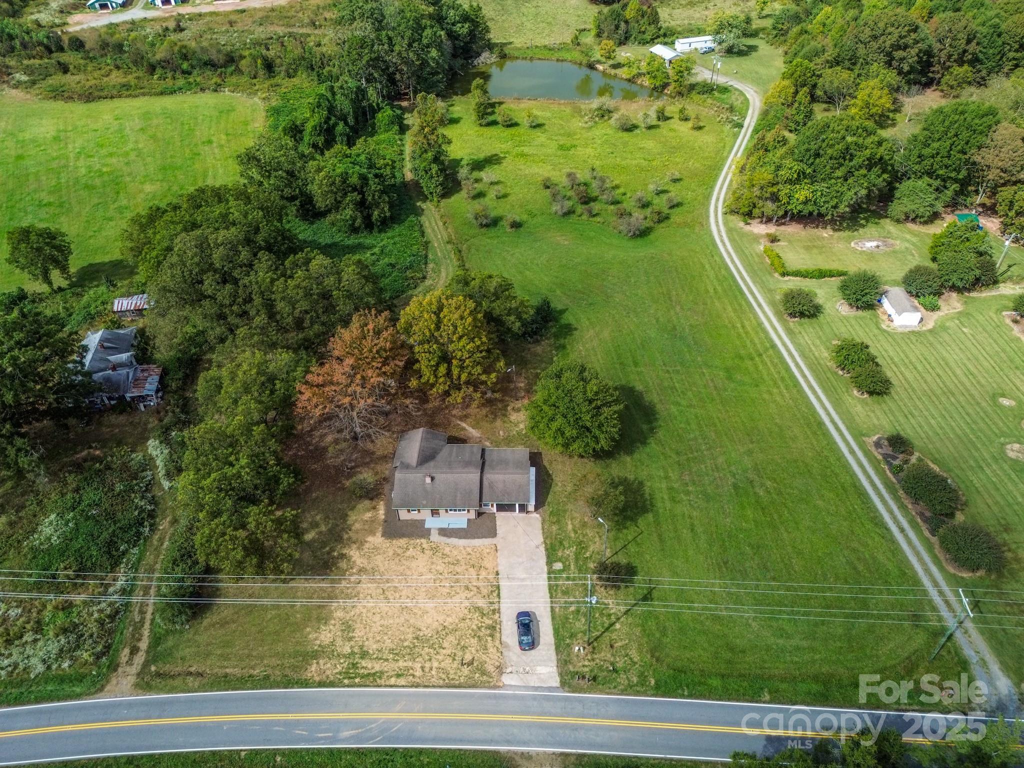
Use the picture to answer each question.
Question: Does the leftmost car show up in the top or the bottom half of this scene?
bottom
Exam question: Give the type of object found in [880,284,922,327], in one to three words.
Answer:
shed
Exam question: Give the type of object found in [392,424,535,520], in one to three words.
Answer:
house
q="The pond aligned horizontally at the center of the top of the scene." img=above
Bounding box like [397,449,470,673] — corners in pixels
[452,60,664,101]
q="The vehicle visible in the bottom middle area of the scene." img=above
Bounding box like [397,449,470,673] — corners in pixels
[514,610,535,651]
